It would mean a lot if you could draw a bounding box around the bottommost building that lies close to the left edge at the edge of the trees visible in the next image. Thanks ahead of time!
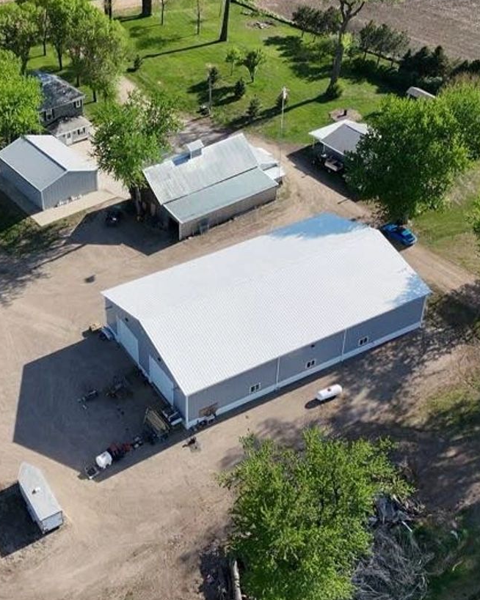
[0,135,100,211]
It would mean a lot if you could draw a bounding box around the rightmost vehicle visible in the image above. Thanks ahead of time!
[380,222,418,243]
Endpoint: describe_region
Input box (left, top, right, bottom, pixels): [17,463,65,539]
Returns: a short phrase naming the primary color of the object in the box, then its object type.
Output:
white trailer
